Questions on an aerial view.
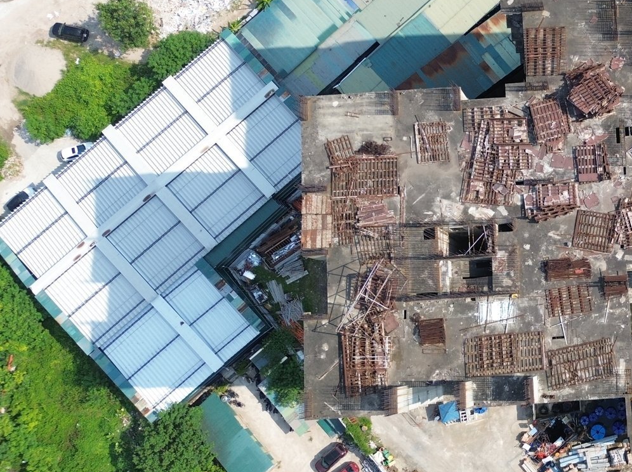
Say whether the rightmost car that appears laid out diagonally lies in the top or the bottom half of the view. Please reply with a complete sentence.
The bottom half of the photo is where the rightmost car that appears laid out diagonally is.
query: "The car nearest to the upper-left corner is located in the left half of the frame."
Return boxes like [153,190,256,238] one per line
[51,23,92,44]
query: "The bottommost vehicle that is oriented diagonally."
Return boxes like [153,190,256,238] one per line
[314,442,351,472]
